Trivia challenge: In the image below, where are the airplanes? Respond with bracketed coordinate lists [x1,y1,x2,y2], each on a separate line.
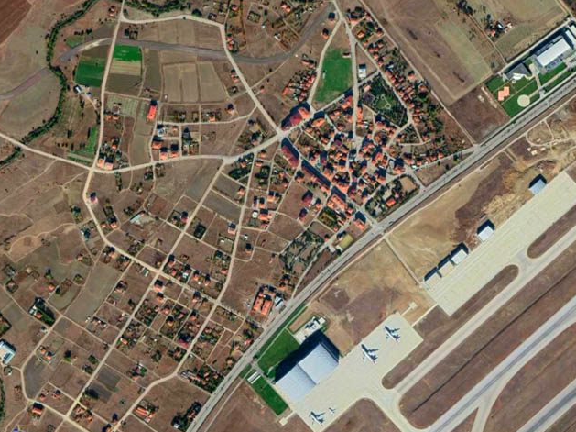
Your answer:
[387,330,401,344]
[313,415,324,426]
[363,348,379,366]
